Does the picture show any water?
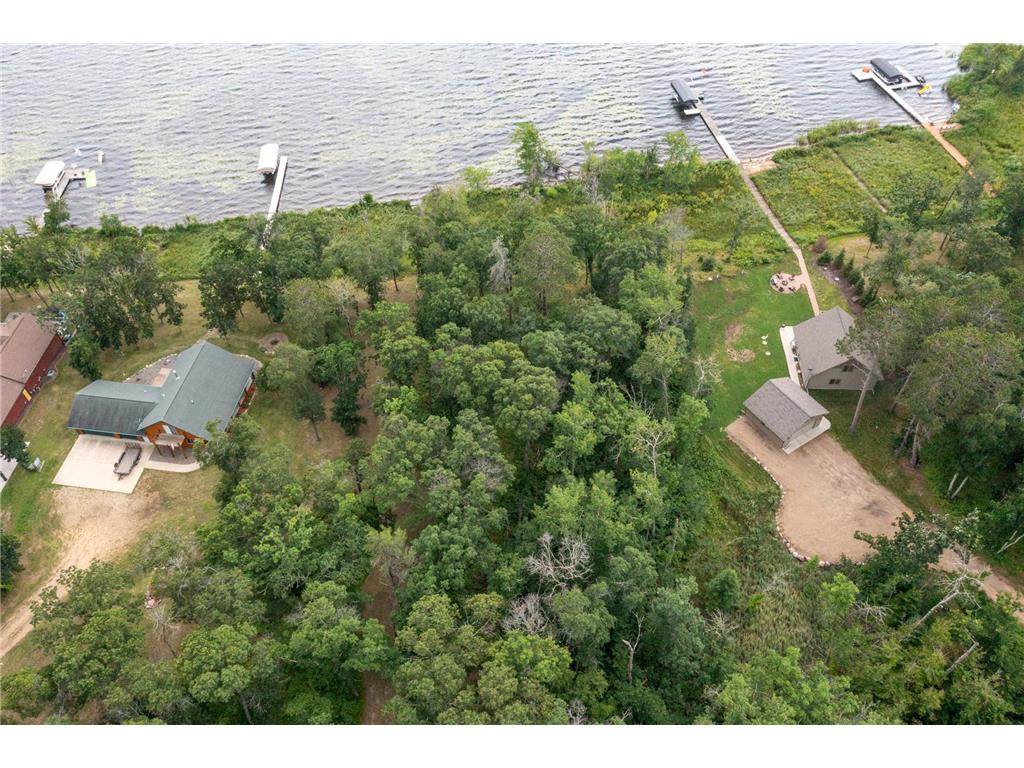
Yes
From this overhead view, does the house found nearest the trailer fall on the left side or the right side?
left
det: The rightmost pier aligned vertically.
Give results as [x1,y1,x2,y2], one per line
[260,155,288,243]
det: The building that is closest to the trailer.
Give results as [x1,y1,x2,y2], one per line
[64,342,258,458]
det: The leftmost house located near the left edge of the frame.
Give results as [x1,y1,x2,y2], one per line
[0,317,57,432]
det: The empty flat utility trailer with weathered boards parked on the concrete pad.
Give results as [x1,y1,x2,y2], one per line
[113,440,142,483]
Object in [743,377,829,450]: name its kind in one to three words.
building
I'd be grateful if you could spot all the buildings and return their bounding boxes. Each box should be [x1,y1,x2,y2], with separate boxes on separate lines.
[0,317,57,432]
[743,377,829,450]
[791,308,891,393]
[64,342,258,458]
